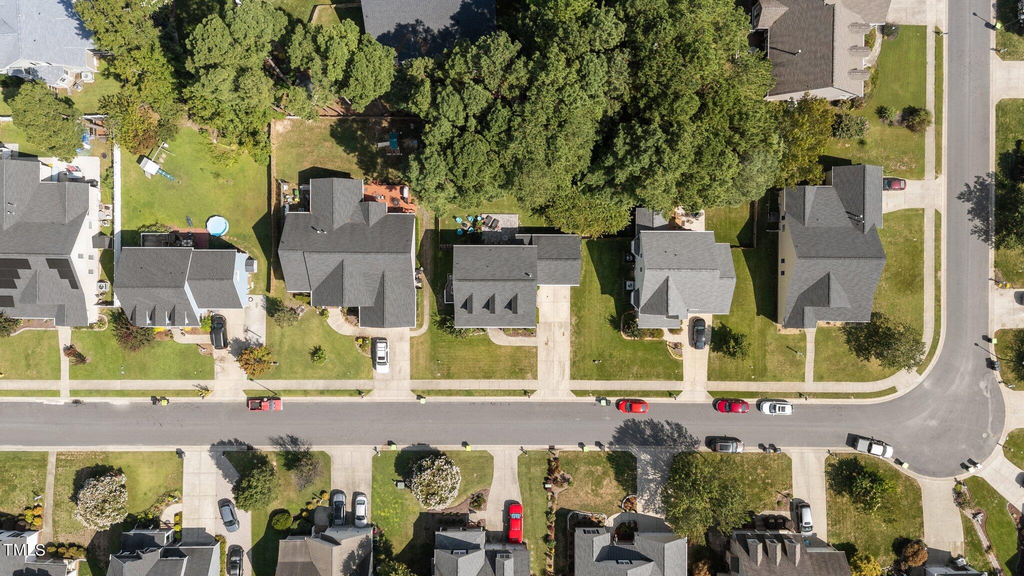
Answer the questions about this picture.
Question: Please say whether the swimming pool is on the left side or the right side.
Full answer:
The swimming pool is on the left side of the image.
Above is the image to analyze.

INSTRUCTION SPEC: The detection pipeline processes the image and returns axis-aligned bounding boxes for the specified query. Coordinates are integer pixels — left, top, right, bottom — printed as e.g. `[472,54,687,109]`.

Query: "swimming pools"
[200,214,228,237]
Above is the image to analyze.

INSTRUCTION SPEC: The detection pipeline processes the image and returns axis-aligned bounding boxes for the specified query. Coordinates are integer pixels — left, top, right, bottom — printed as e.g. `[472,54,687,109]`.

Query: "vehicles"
[760,401,794,416]
[618,399,648,414]
[330,492,346,526]
[711,438,743,454]
[227,545,244,576]
[692,319,707,349]
[294,189,302,200]
[221,500,240,531]
[716,399,748,414]
[853,436,892,457]
[508,504,523,543]
[797,503,815,535]
[210,315,228,348]
[353,494,368,527]
[248,398,283,413]
[374,340,389,372]
[883,177,907,191]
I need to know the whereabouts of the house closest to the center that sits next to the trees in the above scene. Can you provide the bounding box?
[444,234,582,329]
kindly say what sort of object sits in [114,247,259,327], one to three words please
house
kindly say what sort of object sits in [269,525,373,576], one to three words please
house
